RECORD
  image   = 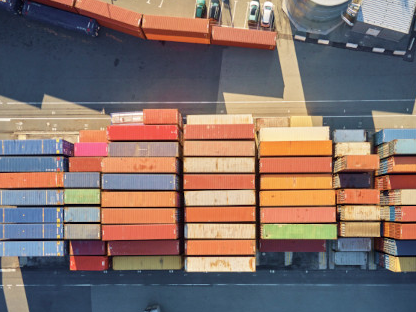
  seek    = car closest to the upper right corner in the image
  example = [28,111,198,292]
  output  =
[261,2,274,28]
